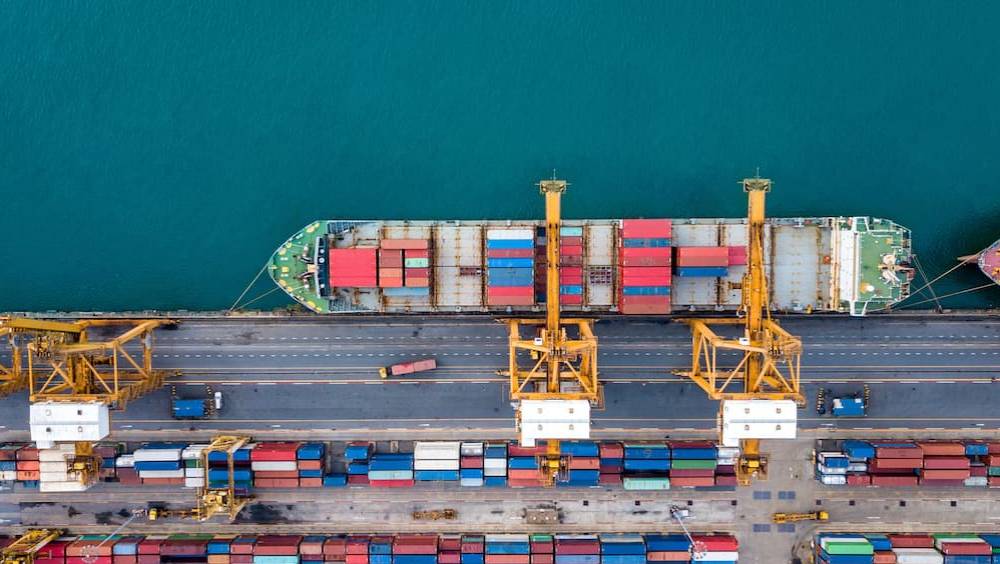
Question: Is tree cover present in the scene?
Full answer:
No, there's no tree cover in this view.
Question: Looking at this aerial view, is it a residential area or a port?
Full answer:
What you see here is a port.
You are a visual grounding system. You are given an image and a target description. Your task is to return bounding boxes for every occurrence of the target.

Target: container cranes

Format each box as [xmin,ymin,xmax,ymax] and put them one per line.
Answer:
[0,529,60,564]
[670,168,814,487]
[490,180,617,487]
[0,312,171,488]
[200,436,252,525]
[0,323,39,399]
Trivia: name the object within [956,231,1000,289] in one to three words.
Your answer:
ship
